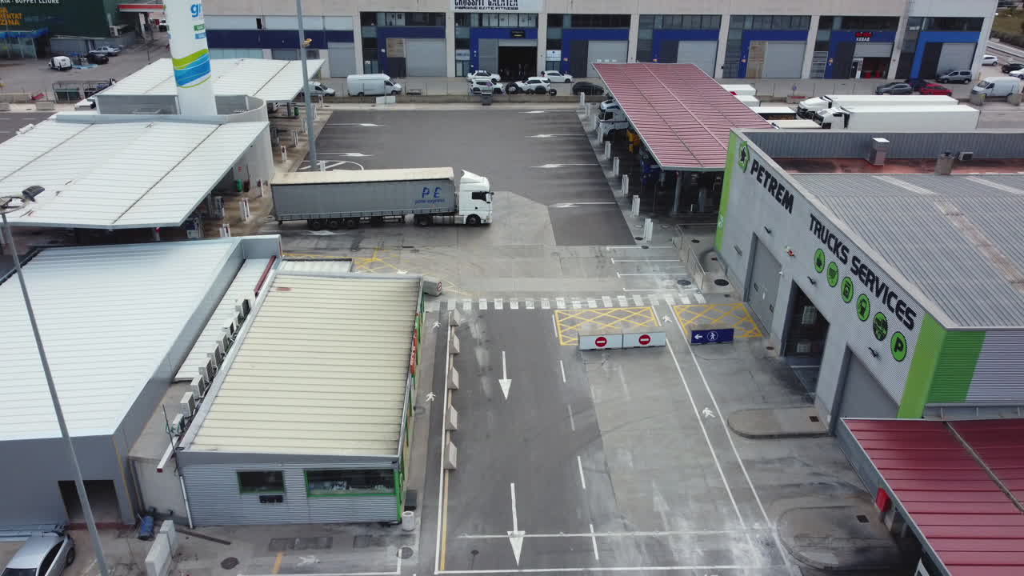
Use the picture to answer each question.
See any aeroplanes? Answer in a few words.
No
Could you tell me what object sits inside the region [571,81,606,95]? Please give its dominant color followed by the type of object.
black car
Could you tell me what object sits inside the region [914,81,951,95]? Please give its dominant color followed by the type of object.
red car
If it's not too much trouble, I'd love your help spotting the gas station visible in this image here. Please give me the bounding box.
[124,0,164,39]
